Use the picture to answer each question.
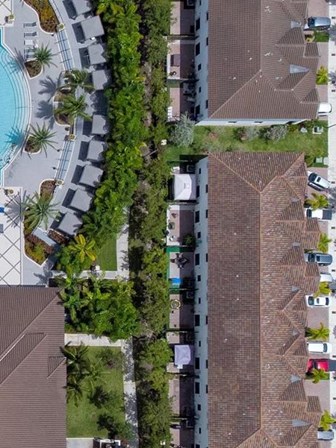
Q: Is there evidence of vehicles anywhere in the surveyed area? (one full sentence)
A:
Yes, a vehicle can be made out from above.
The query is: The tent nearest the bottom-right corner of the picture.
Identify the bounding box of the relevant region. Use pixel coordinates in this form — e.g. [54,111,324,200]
[169,347,192,365]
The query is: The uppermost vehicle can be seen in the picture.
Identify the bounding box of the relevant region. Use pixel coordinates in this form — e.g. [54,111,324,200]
[307,16,334,33]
